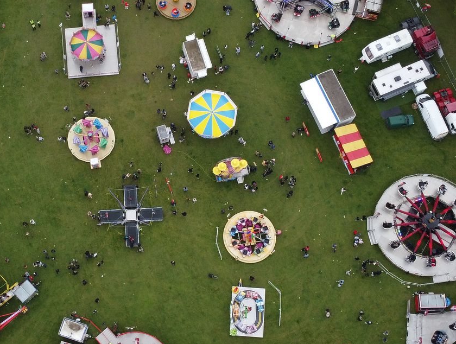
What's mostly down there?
grass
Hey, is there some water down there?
No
